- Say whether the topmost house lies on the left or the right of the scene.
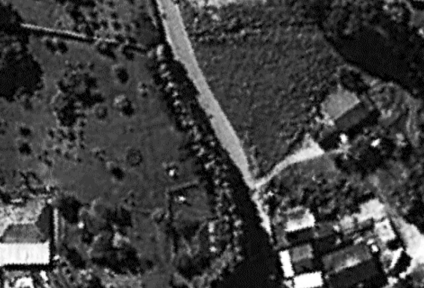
right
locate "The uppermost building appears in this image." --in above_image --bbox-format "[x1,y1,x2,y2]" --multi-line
[321,89,363,129]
